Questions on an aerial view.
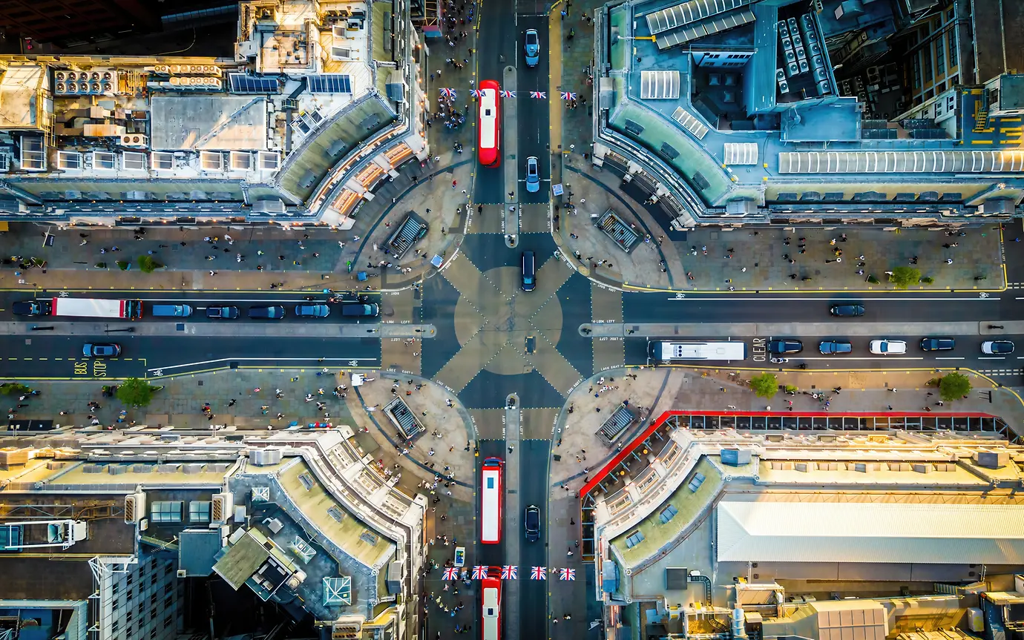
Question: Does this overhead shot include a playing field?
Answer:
No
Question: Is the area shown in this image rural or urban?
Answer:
urban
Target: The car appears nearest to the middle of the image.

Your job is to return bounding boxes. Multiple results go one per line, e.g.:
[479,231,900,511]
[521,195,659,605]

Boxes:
[519,252,537,290]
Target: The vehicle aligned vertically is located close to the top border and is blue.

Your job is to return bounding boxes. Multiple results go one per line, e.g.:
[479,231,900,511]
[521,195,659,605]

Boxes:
[523,32,539,67]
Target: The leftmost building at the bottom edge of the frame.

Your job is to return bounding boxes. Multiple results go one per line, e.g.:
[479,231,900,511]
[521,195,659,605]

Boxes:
[0,425,426,640]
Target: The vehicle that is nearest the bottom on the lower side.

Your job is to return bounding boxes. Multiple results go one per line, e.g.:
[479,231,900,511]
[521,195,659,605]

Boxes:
[479,568,503,640]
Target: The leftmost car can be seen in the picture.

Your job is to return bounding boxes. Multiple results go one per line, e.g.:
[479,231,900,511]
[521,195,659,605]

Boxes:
[16,300,53,317]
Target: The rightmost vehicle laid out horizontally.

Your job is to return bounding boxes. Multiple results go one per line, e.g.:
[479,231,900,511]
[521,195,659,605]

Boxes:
[977,339,1012,355]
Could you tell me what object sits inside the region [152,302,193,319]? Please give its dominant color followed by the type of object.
blue vehicle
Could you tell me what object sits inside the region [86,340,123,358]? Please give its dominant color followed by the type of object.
blue car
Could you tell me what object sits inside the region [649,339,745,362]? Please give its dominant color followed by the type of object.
white bus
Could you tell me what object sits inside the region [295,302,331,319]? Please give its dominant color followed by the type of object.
blue car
